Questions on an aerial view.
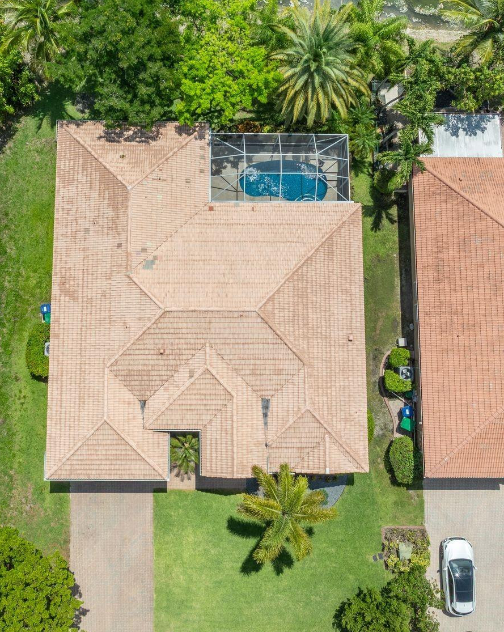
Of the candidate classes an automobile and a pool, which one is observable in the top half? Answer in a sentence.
You can see a pool in the top half.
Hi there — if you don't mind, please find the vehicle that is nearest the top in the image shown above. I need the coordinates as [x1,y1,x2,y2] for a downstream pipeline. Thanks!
[436,534,477,620]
